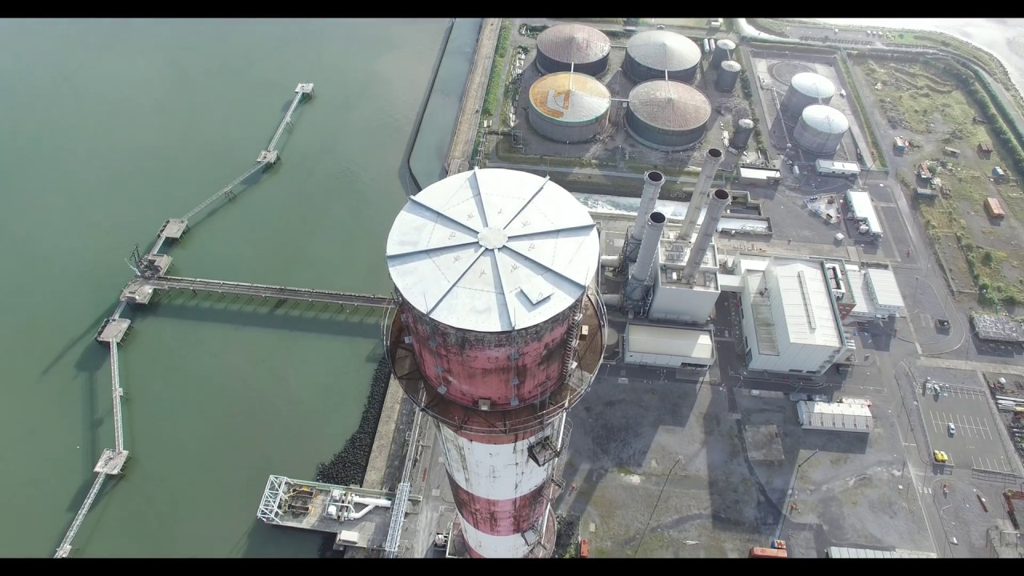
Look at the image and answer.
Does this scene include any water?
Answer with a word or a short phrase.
Yes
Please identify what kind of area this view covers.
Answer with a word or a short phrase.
industrial area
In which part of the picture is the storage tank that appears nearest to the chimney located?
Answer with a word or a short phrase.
top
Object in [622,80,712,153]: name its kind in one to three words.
storage tank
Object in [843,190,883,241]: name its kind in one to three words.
building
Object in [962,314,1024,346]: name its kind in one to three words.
shed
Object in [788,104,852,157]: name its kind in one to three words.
water tank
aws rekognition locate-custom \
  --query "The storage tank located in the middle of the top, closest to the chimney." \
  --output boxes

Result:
[526,73,611,144]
